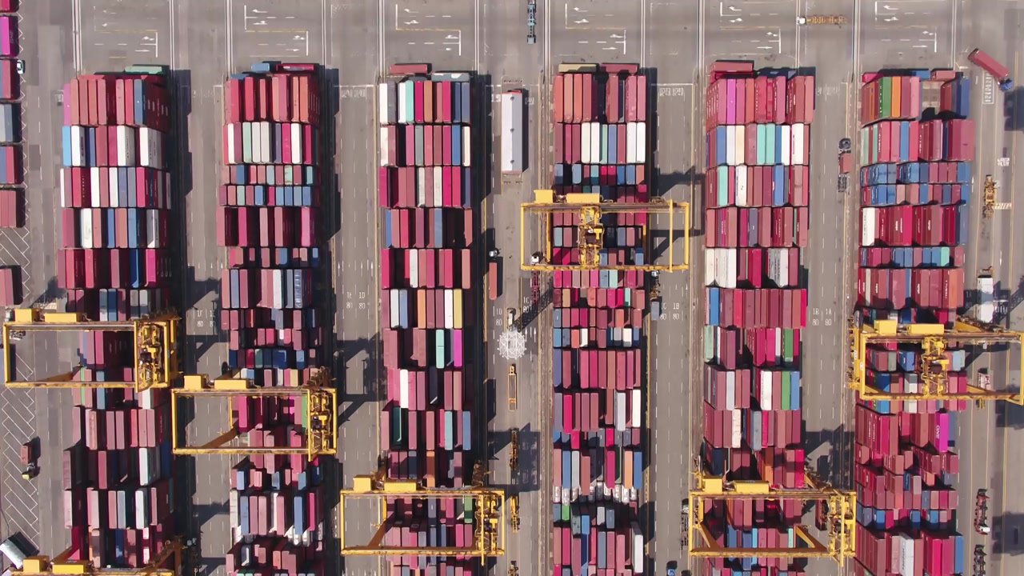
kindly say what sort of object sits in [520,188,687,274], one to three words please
container crane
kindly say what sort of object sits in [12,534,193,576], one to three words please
container crane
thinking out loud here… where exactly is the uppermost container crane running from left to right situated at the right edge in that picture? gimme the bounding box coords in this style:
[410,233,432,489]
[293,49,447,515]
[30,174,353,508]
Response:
[848,310,1024,409]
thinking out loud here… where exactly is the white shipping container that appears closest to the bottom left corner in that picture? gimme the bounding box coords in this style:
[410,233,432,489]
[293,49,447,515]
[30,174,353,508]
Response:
[0,540,27,565]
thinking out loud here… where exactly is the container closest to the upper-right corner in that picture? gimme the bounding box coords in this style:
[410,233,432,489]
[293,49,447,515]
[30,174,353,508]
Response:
[967,49,1007,80]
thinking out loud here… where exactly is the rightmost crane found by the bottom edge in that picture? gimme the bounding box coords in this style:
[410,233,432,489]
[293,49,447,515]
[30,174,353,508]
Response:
[685,454,853,572]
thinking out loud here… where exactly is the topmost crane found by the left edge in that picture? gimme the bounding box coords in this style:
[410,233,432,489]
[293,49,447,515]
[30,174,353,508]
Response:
[6,308,189,397]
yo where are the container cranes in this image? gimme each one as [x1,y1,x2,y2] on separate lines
[6,308,189,397]
[848,310,1024,409]
[340,453,504,570]
[685,454,853,572]
[173,362,340,465]
[520,188,687,274]
[12,534,193,576]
